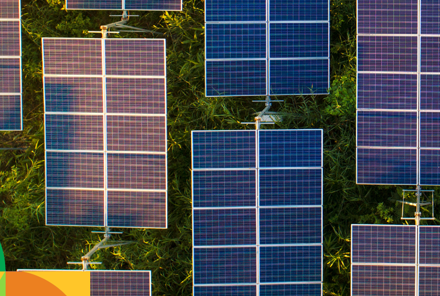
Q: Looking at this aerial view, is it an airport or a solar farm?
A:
solar farm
